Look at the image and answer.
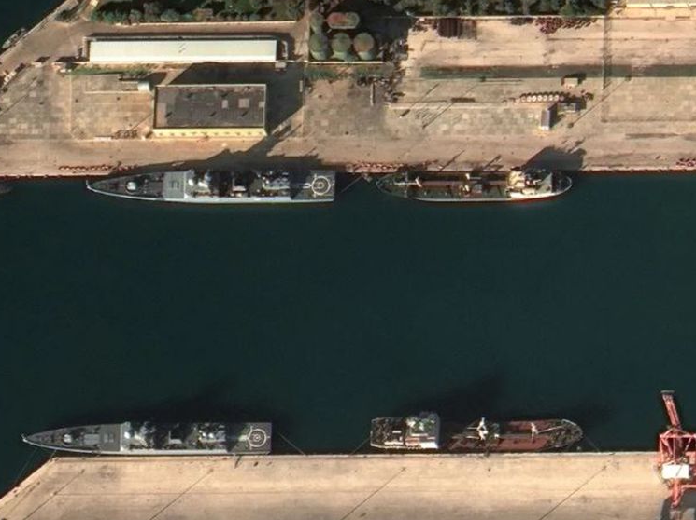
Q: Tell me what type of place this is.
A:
port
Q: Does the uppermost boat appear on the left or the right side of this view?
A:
left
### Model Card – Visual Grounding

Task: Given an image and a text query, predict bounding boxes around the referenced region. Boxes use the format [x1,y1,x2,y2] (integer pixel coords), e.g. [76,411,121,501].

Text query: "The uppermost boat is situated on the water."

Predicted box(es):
[3,27,27,49]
